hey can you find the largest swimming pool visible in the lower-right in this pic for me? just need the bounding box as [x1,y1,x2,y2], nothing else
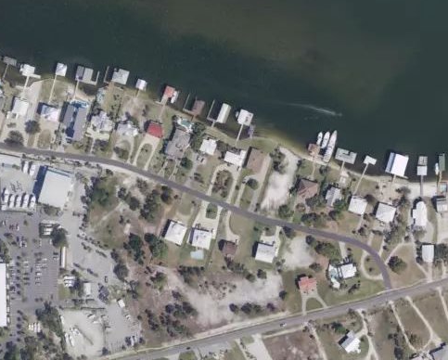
[327,263,340,286]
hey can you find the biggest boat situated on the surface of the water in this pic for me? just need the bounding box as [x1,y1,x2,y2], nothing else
[323,131,337,162]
